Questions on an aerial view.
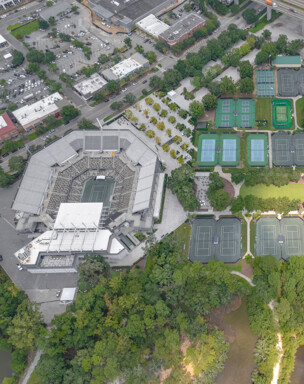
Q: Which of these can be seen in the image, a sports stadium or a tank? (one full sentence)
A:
This aerial view contains a sports stadium.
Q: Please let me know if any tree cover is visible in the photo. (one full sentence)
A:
Yes, there's tree cover in this view.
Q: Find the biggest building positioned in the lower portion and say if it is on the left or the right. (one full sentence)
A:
The biggest building positioned in the lower portion is on the left side of the image.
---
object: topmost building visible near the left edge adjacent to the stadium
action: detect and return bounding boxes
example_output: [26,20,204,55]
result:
[12,93,66,130]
